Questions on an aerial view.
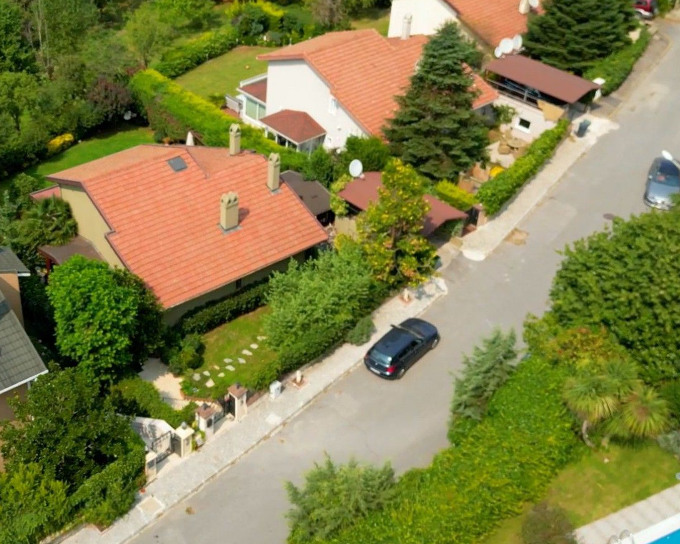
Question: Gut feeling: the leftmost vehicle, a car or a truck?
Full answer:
Looking closely, the leftmost vehicle is a car.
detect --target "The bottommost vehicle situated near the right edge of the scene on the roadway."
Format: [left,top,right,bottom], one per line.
[640,152,680,201]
